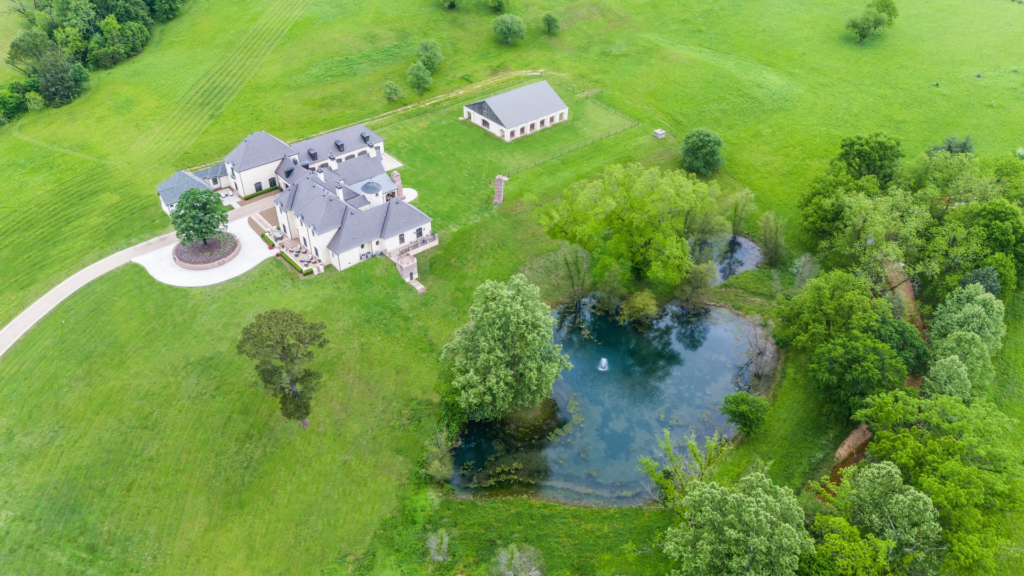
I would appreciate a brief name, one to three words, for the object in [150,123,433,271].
house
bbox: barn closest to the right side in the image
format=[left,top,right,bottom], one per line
[463,80,570,141]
